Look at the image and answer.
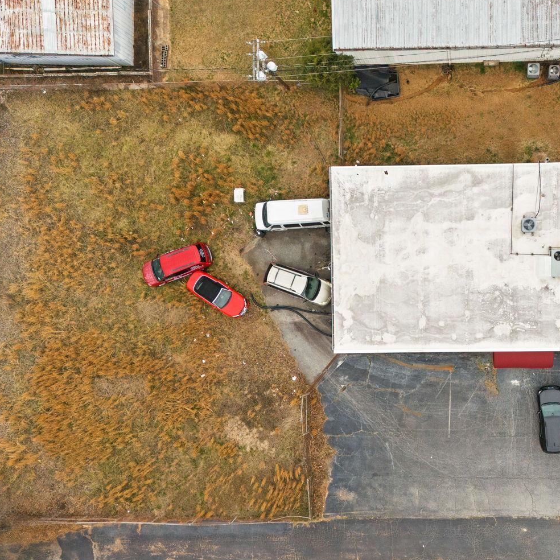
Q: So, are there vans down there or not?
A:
Yes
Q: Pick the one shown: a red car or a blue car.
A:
red car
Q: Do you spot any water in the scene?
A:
No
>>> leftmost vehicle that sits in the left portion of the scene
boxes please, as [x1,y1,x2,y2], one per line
[143,242,215,287]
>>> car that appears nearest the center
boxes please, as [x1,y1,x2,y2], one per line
[261,264,330,308]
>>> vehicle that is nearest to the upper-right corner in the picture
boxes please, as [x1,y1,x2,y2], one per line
[255,200,330,236]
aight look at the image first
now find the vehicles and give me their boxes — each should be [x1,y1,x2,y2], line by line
[261,264,330,308]
[143,242,215,287]
[255,200,330,236]
[536,384,560,454]
[183,270,250,319]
